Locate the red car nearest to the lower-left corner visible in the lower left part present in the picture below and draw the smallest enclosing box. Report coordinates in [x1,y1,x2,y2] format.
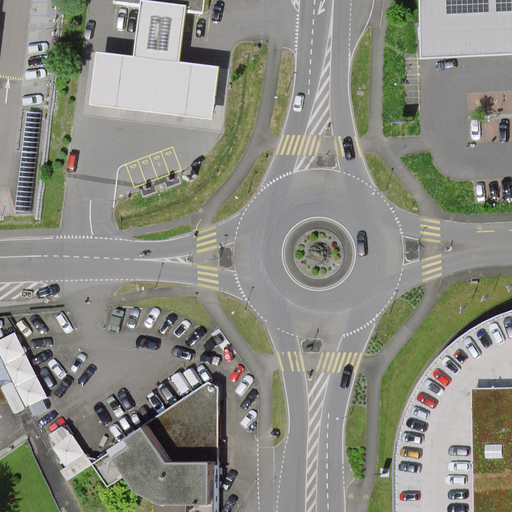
[47,415,68,432]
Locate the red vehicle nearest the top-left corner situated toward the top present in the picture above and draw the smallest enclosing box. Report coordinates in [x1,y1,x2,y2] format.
[66,151,80,172]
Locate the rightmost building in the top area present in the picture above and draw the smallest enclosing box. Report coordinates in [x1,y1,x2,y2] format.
[420,0,512,58]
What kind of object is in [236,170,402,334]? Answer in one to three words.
roundabout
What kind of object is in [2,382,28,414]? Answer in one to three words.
shed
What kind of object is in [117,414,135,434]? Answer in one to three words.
car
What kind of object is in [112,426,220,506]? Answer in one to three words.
building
